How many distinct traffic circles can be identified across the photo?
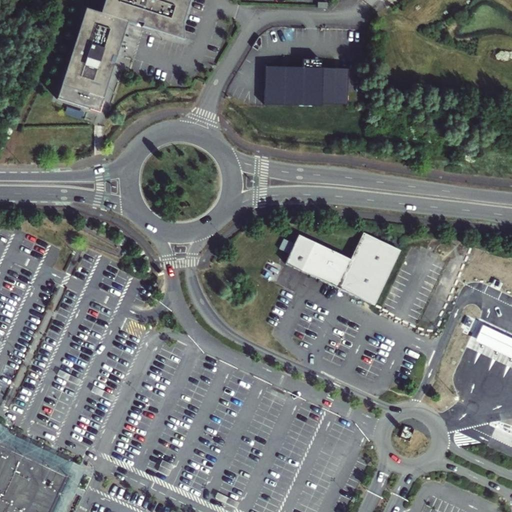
2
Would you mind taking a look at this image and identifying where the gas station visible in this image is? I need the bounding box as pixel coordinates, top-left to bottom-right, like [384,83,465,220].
[438,282,512,456]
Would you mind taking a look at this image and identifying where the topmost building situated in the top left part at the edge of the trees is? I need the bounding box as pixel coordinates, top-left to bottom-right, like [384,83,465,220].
[57,0,195,110]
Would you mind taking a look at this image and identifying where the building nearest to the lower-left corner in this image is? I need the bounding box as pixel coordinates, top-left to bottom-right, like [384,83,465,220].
[0,426,86,512]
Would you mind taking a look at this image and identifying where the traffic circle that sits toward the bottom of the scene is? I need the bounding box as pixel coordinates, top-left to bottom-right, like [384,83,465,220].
[374,401,448,476]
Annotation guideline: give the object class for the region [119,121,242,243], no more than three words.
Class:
roundabout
